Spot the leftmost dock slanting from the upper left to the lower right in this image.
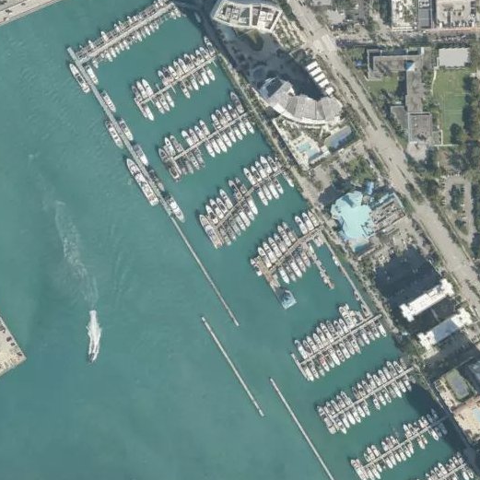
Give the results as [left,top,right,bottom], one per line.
[67,46,173,217]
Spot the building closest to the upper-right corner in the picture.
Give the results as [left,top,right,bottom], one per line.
[436,0,475,28]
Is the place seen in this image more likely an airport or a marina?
marina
